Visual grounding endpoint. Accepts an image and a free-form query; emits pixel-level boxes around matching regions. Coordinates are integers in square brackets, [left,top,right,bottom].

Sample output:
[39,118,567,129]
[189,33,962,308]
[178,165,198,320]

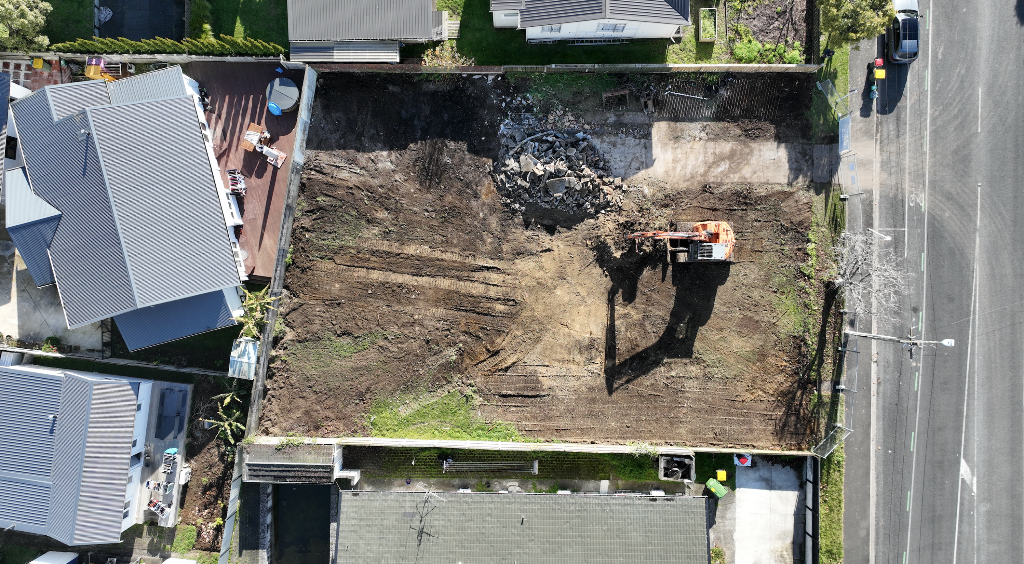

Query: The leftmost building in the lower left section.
[0,359,157,548]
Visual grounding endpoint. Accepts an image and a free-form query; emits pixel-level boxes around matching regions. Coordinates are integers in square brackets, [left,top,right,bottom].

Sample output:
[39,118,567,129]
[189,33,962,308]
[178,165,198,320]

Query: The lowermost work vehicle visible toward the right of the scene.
[623,221,736,263]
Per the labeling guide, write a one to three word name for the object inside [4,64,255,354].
house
